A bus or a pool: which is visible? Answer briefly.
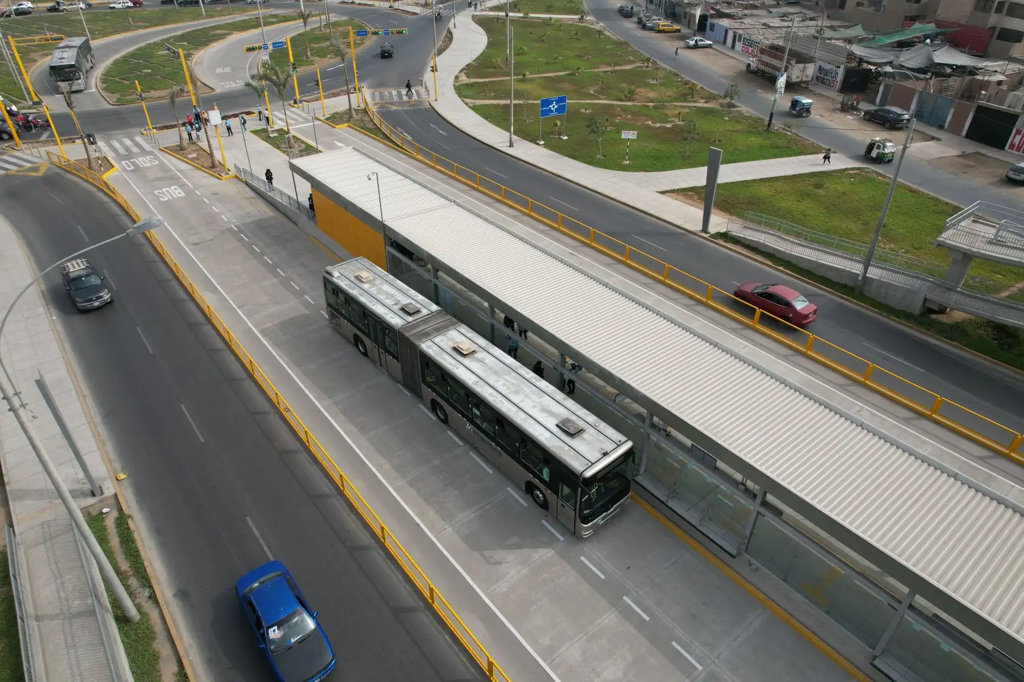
bus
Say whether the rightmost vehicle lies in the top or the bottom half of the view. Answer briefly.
top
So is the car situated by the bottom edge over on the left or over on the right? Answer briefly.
left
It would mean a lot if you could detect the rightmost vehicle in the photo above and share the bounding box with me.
[995,156,1024,188]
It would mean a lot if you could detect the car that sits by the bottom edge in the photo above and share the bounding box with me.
[240,557,338,682]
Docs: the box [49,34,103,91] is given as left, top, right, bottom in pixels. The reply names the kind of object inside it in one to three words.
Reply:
bus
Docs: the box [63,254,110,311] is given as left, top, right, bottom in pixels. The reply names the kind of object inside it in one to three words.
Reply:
car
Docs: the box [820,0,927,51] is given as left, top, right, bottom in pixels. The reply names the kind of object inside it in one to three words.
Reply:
building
